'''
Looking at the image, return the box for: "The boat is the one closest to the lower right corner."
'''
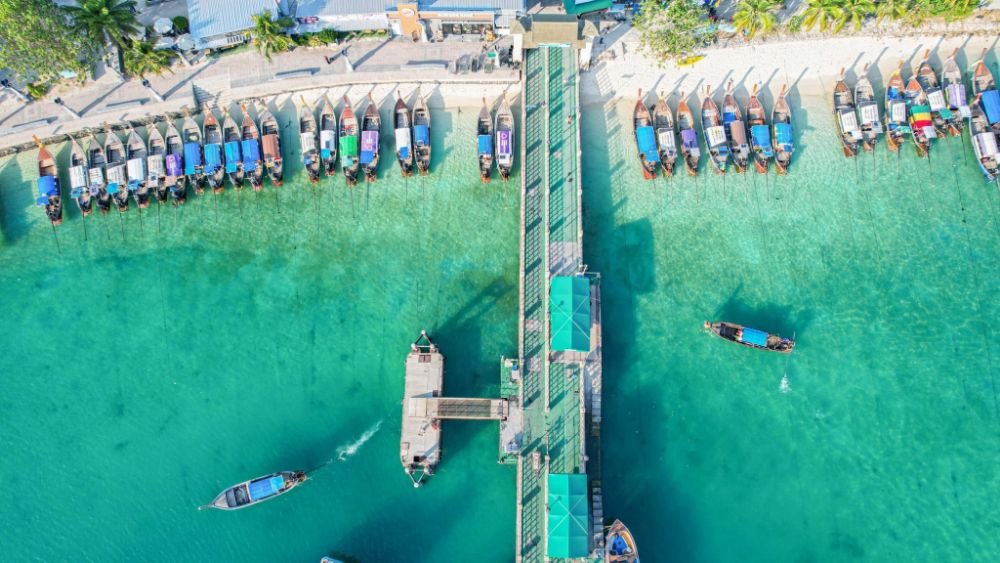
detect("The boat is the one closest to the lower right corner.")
[704,325,793,385]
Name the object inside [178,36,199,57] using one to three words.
umbrella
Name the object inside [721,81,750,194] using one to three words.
boat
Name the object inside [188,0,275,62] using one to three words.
building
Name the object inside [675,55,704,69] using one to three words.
boat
